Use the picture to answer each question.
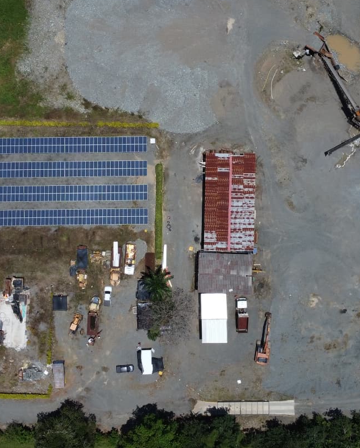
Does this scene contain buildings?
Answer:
Yes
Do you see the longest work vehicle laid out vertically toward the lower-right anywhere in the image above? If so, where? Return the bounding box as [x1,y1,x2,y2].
[258,313,272,366]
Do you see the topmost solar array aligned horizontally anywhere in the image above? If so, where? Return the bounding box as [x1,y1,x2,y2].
[0,137,147,153]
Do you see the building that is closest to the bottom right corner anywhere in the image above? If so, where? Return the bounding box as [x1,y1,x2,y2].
[201,293,228,343]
